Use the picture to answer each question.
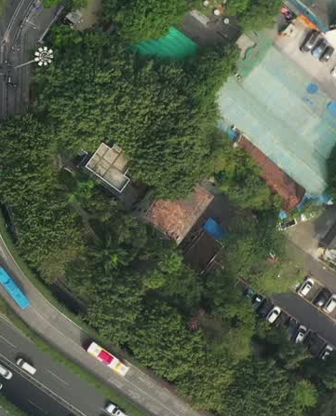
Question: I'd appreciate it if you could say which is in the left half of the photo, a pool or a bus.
bus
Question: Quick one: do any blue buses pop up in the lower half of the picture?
Yes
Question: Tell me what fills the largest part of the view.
trees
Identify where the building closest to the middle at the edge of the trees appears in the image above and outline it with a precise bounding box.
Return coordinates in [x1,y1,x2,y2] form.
[150,184,212,245]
